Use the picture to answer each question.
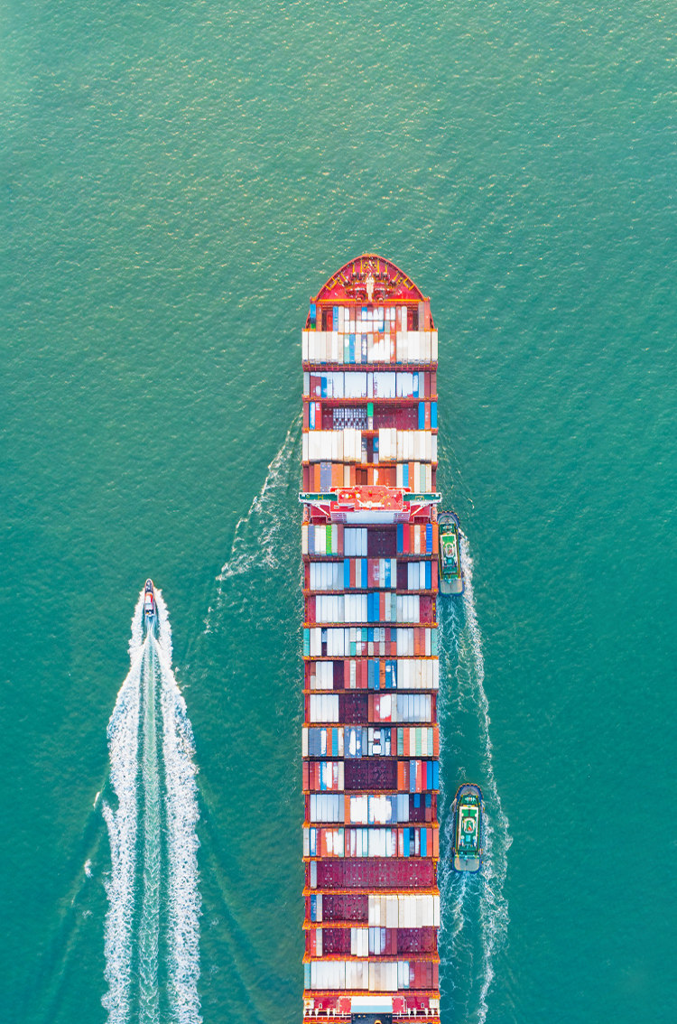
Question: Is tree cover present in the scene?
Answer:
No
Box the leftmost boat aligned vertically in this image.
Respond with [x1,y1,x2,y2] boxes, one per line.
[144,579,156,618]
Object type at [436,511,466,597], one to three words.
boat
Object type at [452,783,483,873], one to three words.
boat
